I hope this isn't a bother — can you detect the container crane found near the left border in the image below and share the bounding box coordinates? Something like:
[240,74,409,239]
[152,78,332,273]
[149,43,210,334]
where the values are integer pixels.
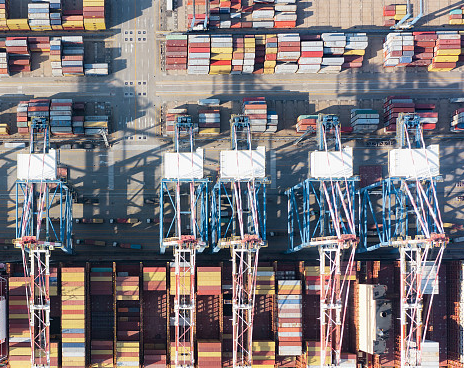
[13,116,77,368]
